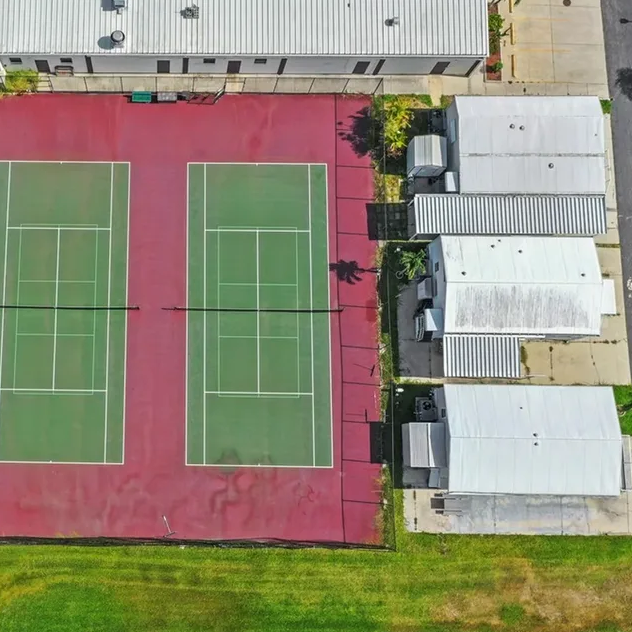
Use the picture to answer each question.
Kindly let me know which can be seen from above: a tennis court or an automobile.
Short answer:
tennis court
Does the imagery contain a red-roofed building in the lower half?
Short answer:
No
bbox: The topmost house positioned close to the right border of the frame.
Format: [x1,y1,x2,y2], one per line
[445,95,605,196]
